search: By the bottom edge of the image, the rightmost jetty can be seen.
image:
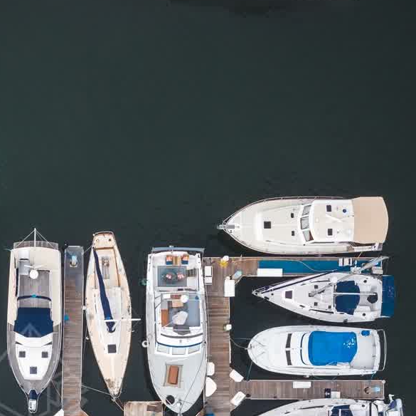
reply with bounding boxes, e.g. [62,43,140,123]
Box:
[231,379,385,399]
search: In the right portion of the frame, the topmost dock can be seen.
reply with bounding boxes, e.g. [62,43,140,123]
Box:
[229,257,384,277]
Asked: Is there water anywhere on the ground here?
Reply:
Yes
